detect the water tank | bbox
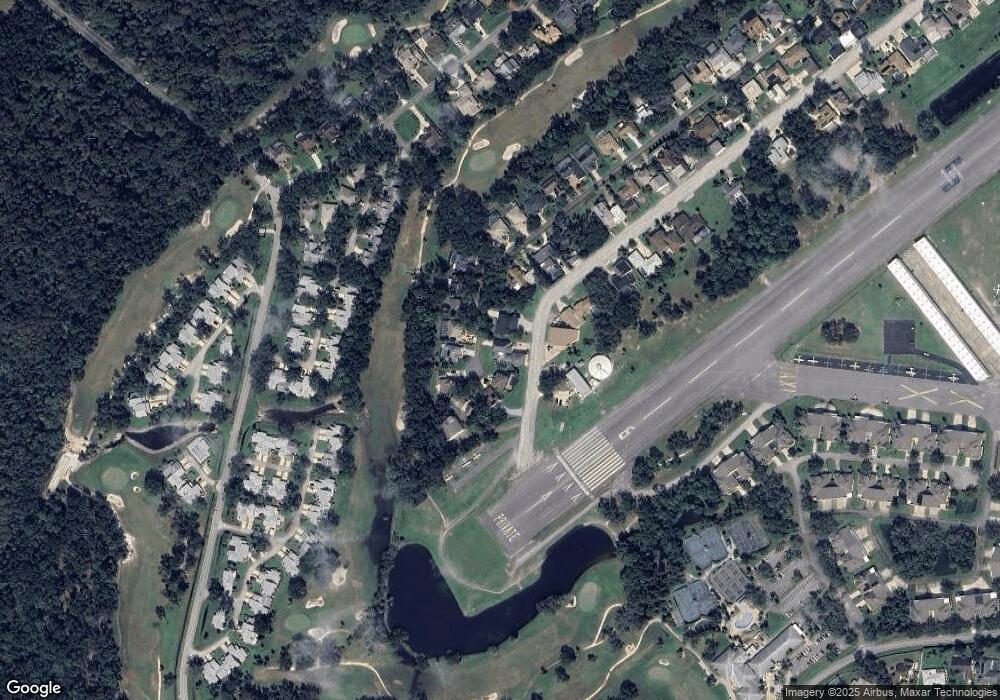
[588,355,612,380]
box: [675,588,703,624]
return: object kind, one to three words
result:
tennis court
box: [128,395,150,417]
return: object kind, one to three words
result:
house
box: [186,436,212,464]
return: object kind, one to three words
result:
building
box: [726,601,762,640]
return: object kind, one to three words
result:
swimming pool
